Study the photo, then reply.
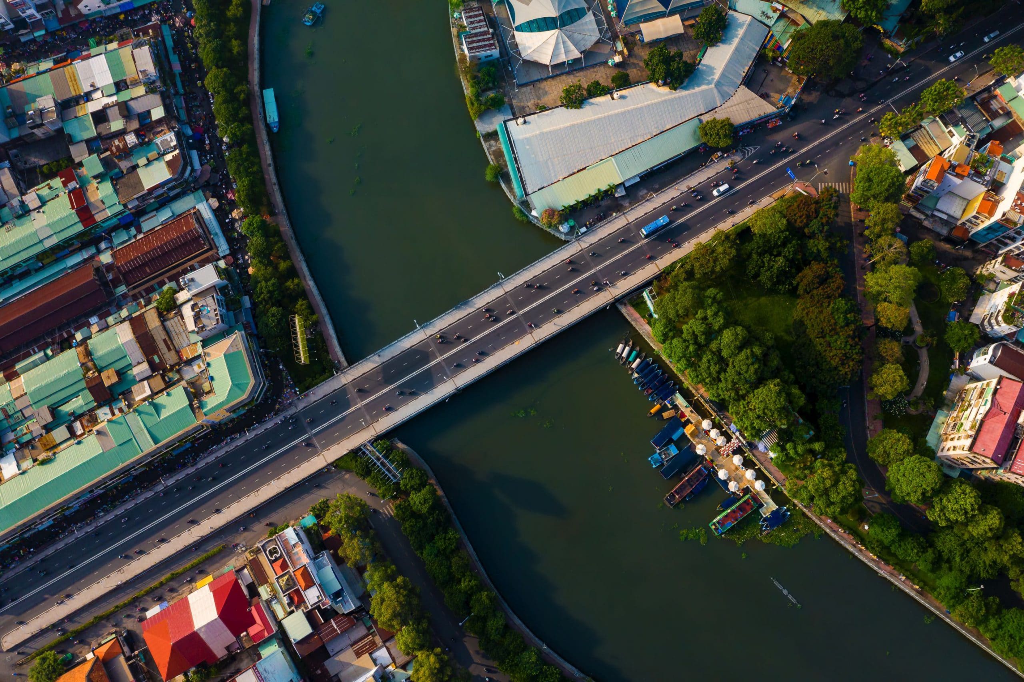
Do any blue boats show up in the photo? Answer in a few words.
Yes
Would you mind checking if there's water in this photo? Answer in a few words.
Yes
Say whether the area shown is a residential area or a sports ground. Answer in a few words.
residential area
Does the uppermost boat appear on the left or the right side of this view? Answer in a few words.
left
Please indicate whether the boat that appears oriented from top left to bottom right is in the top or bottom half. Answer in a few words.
bottom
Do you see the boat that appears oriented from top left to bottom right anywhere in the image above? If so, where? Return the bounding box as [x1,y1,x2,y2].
[711,469,732,494]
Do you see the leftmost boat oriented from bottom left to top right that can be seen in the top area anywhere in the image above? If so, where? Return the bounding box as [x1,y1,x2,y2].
[301,0,324,25]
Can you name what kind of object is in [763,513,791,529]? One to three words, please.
boat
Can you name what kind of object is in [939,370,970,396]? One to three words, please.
house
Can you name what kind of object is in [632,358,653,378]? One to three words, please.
boat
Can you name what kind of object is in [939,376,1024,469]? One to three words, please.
building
